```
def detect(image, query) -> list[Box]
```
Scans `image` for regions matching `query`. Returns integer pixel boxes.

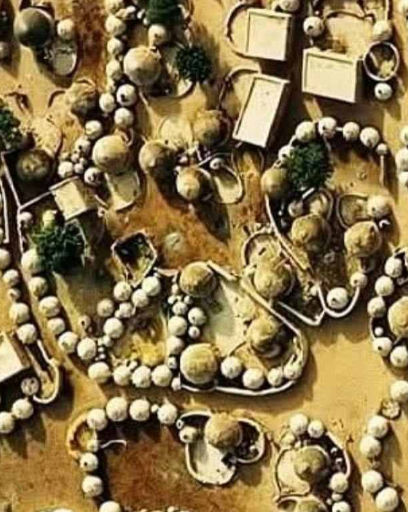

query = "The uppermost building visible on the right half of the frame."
[245,9,299,60]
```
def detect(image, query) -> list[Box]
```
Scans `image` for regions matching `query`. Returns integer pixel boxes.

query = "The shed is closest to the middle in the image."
[180,260,219,297]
